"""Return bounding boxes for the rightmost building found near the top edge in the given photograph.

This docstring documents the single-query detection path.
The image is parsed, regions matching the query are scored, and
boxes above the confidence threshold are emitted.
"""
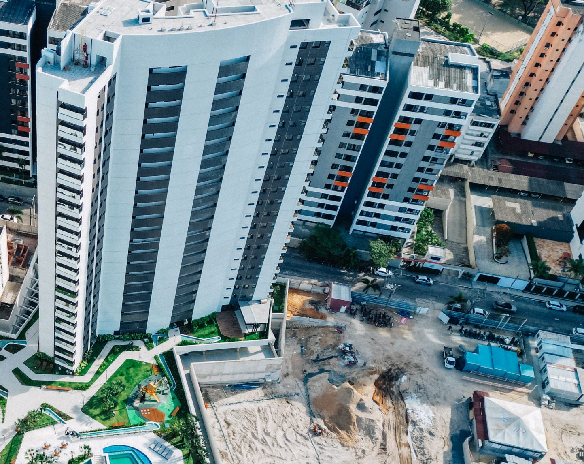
[493,0,584,152]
